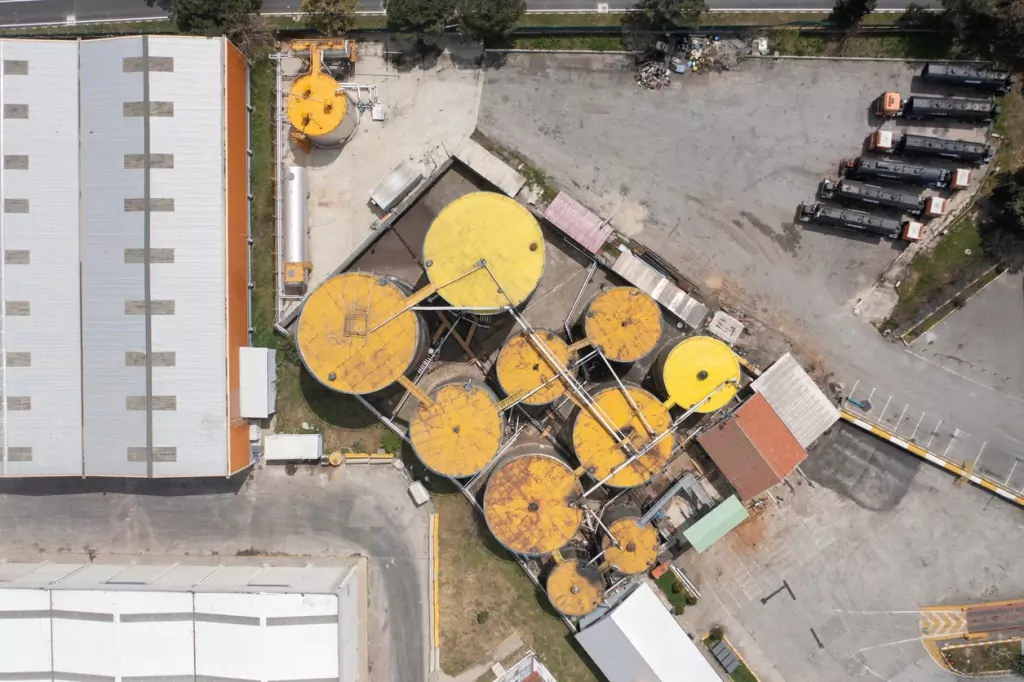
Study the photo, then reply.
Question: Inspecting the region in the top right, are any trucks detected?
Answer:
Yes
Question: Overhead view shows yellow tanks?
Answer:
Yes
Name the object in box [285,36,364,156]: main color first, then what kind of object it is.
orange storage tank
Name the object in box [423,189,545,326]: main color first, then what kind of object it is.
yellow storage tank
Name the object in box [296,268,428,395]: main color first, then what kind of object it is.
orange storage tank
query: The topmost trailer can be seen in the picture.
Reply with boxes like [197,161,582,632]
[915,63,1006,92]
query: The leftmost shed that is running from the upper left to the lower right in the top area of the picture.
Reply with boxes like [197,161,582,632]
[455,139,527,197]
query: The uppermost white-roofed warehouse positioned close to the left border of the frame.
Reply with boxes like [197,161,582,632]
[0,35,255,479]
